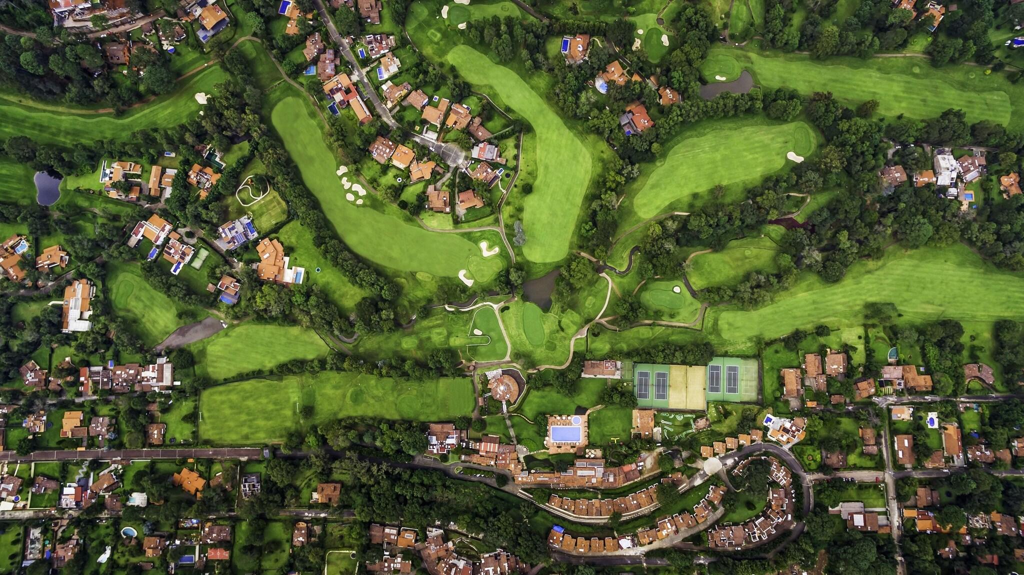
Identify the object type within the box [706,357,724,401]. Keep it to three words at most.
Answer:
tennis court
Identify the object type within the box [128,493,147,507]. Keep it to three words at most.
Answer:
swimming pool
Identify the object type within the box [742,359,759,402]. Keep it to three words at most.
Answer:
tennis court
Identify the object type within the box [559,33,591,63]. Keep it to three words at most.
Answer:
house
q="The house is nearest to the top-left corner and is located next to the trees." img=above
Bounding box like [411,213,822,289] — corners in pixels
[50,0,102,28]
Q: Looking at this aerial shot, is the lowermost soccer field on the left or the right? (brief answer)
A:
left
